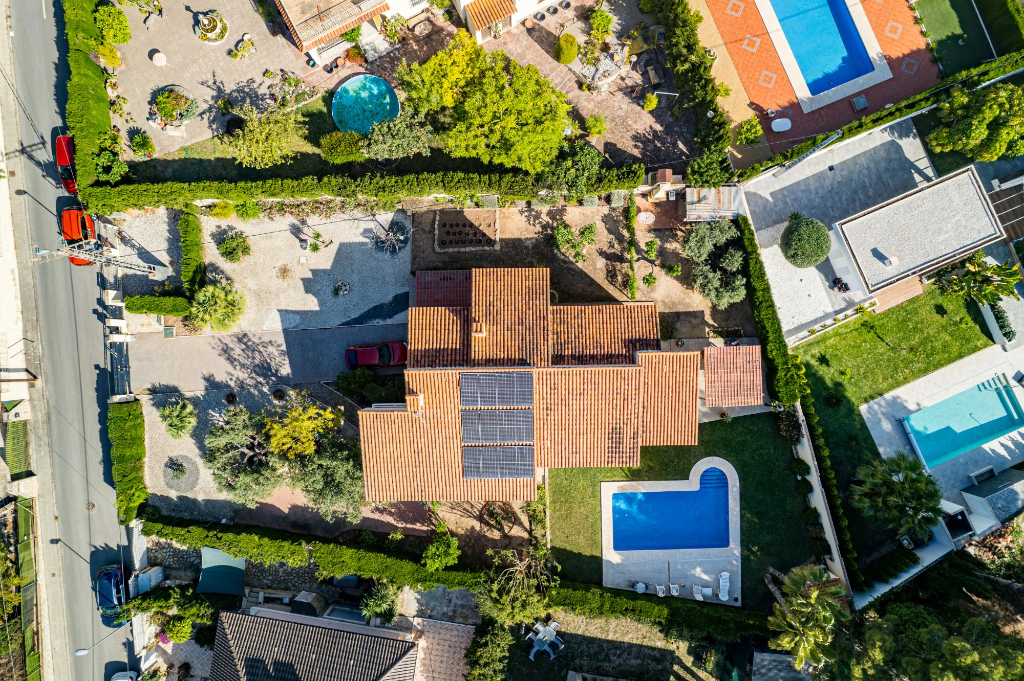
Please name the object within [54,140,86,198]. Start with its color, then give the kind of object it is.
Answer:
red car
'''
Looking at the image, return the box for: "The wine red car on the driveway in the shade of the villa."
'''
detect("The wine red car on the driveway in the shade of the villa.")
[346,340,406,370]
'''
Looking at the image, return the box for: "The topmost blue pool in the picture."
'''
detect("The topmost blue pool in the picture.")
[769,0,874,94]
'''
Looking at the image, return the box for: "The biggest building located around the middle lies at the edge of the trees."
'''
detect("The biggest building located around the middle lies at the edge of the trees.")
[357,267,702,502]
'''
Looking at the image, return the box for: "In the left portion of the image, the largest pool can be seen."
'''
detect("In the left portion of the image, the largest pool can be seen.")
[331,70,399,143]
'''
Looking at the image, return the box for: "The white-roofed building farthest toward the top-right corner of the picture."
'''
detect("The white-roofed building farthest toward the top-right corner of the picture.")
[815,165,1024,298]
